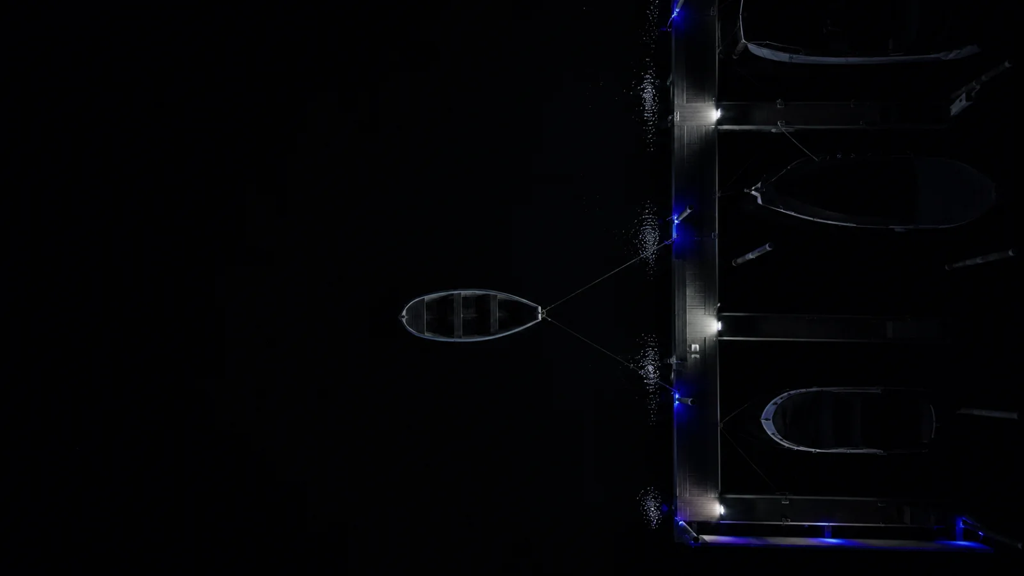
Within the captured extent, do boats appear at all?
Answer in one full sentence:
Yes, there's a boat down there.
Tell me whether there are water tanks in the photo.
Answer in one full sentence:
No, the frame has no water tank in it.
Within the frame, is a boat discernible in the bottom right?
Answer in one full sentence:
Yes, you'll find a boat in the bottom right.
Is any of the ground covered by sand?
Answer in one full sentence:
No, the scene doesn't show any sand.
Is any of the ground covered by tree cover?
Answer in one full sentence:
No, no tree cover is visible.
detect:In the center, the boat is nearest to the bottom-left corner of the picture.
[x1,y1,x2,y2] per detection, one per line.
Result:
[399,288,542,343]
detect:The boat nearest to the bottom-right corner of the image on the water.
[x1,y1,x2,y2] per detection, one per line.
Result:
[760,386,935,454]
